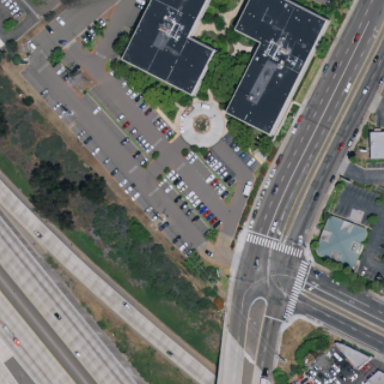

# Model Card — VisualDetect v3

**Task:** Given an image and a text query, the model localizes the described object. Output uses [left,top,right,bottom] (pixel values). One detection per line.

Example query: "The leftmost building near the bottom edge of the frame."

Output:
[336,342,374,370]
